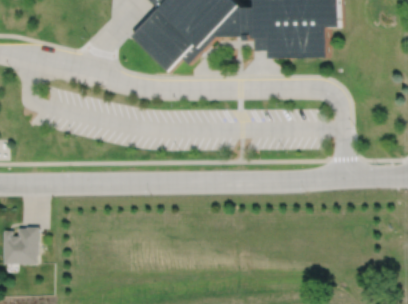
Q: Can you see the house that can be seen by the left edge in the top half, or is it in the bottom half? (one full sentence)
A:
The house that can be seen by the left edge is in the bottom half of the image.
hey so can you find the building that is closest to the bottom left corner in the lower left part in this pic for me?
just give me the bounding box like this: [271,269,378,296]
[4,227,42,274]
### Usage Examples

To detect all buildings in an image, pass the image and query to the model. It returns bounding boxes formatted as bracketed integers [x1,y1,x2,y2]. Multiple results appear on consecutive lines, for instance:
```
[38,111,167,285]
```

[4,227,42,274]
[134,0,344,72]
